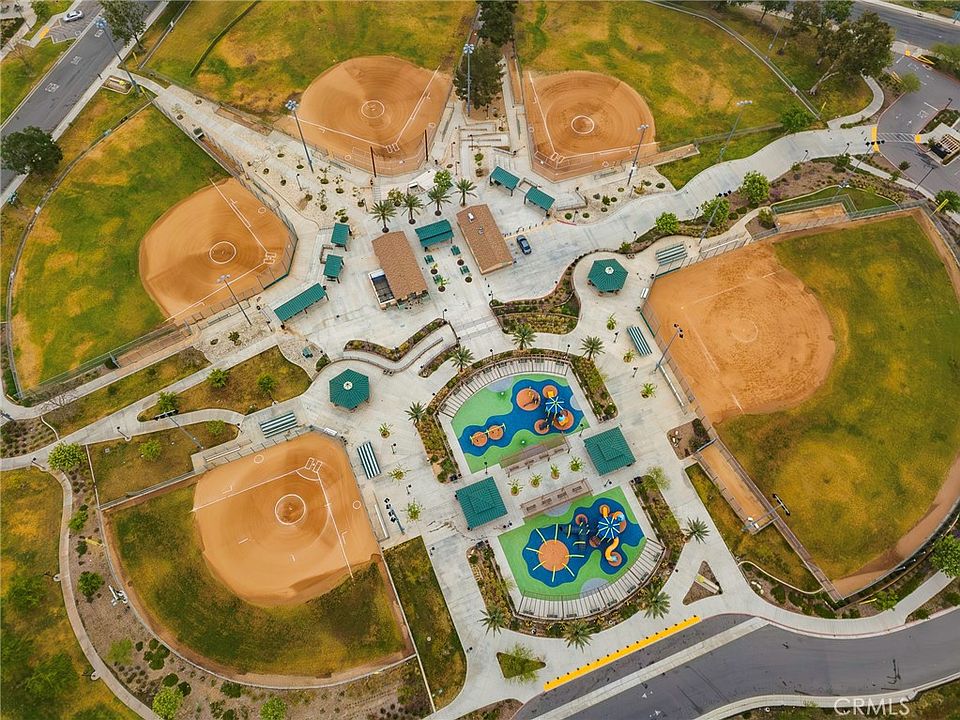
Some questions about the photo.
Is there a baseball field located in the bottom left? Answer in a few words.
Yes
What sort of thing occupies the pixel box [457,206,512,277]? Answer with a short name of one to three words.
building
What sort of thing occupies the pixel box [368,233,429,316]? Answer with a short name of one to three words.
building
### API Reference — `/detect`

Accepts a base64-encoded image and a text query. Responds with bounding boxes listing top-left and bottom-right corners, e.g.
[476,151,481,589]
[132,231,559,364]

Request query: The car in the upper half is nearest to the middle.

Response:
[516,233,532,256]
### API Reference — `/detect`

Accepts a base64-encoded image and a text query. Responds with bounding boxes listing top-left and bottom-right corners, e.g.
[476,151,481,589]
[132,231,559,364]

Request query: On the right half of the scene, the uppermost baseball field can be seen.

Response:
[517,0,817,181]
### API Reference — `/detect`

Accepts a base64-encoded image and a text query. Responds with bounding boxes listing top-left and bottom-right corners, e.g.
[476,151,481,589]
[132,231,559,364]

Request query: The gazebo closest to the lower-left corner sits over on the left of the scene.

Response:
[329,368,370,414]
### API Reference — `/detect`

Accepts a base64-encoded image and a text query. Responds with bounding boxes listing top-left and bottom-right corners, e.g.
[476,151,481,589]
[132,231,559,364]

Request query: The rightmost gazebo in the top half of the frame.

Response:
[586,259,628,299]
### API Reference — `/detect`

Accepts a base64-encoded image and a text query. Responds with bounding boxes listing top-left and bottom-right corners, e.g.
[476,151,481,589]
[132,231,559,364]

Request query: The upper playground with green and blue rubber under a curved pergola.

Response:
[452,372,590,472]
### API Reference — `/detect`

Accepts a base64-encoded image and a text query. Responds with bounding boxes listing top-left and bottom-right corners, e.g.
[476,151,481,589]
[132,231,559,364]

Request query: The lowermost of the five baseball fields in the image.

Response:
[101,432,413,685]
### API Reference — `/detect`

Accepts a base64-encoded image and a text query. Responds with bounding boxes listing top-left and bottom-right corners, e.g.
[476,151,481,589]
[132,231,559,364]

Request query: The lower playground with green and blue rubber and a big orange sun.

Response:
[498,487,647,600]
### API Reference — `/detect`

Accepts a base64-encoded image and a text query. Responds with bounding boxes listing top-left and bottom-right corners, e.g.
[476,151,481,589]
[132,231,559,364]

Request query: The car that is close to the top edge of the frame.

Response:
[62,10,84,24]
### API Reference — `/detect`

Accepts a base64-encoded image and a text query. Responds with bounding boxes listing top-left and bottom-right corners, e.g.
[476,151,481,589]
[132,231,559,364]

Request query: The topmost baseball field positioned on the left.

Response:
[141,0,470,177]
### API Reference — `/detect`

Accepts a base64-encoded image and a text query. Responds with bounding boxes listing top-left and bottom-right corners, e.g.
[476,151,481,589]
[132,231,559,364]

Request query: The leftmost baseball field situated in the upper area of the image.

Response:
[10,102,295,394]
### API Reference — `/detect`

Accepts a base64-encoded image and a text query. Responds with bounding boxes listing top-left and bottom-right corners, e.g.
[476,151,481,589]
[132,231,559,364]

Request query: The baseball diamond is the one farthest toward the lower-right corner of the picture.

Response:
[639,207,960,598]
